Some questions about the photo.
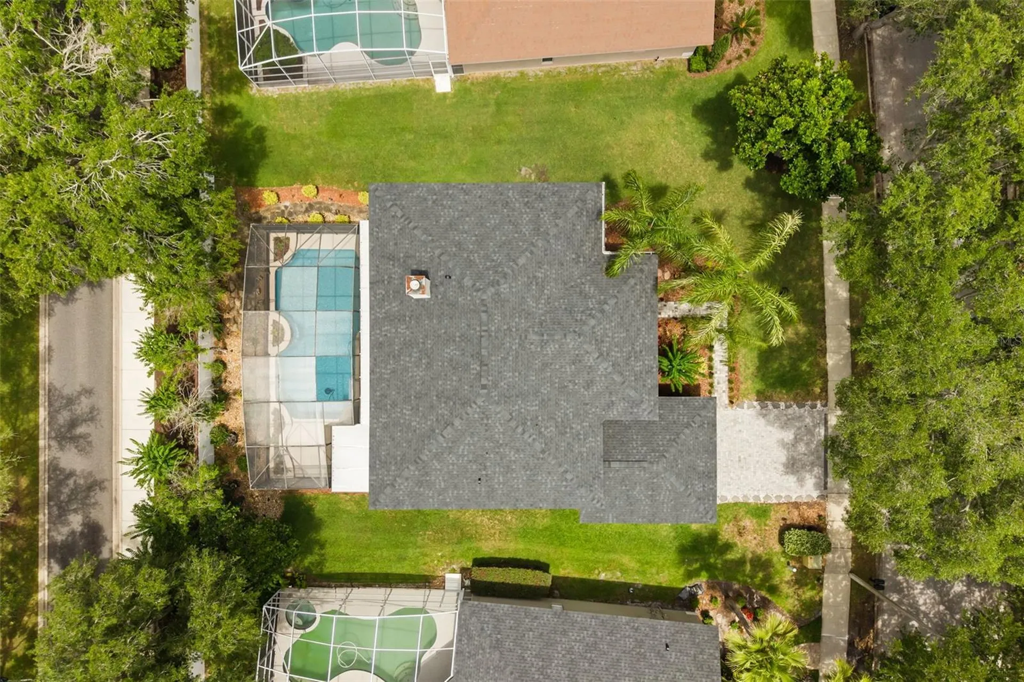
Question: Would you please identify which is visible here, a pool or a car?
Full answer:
I can see a pool in this picture.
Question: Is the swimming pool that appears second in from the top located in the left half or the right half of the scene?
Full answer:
The swimming pool that appears second in from the top is on the left side of the image.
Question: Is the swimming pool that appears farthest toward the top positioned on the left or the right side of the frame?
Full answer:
It is on the left.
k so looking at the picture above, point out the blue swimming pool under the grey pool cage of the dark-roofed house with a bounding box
[271,244,357,423]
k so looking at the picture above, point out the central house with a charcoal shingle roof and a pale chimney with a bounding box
[369,183,717,523]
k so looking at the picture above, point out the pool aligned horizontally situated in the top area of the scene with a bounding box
[261,0,425,70]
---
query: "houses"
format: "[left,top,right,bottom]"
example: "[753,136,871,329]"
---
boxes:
[369,183,717,523]
[454,592,719,682]
[441,0,716,74]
